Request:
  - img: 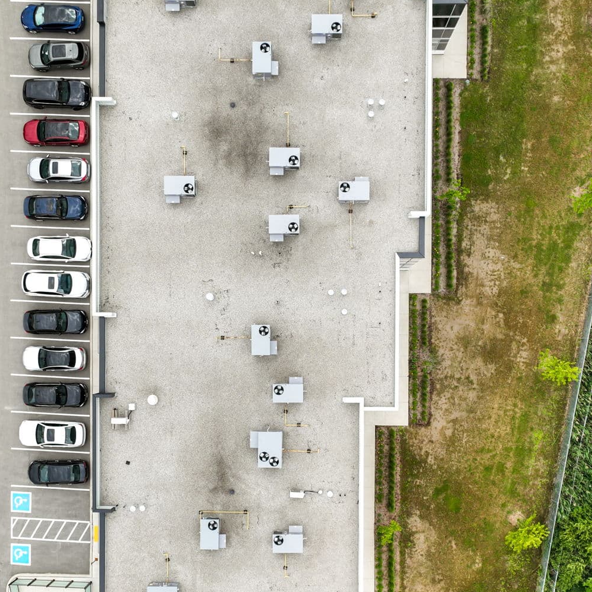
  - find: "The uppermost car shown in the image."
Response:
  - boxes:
[20,0,86,34]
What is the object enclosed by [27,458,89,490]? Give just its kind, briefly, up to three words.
car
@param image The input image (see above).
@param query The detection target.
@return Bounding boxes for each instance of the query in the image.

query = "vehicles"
[19,74,92,109]
[26,232,90,264]
[20,0,86,34]
[19,267,90,300]
[27,458,89,490]
[26,152,90,184]
[21,342,87,374]
[20,379,88,410]
[27,37,90,73]
[23,114,89,147]
[18,418,87,451]
[21,190,89,222]
[21,306,89,338]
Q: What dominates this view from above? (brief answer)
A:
buildings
